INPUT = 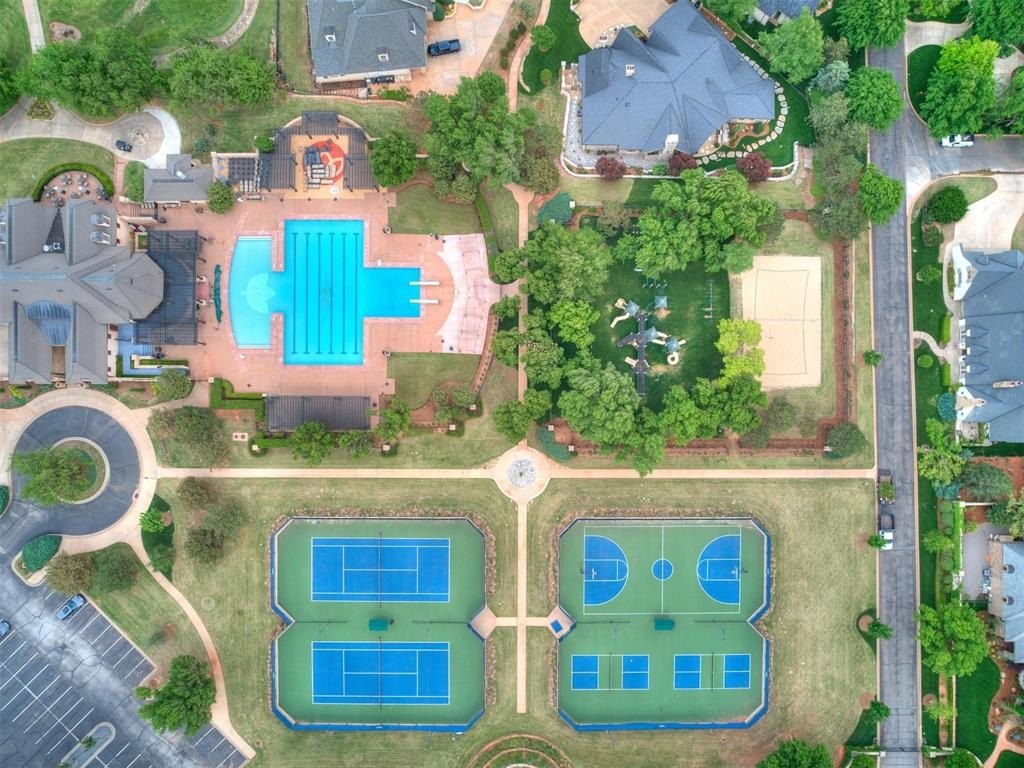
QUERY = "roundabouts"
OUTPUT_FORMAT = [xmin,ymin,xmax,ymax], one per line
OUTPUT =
[0,404,141,559]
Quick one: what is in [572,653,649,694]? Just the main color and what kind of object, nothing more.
blue sports court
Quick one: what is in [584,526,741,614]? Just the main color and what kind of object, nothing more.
blue basketball court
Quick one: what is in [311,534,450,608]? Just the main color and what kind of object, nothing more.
blue tennis court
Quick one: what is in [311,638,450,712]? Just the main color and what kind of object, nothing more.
blue tennis court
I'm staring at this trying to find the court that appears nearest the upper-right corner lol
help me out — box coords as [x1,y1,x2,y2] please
[729,240,825,389]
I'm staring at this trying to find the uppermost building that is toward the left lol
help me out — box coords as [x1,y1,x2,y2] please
[308,0,439,82]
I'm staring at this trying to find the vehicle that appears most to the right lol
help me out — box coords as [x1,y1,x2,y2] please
[942,131,979,147]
